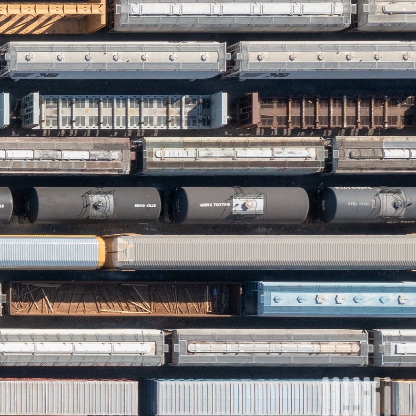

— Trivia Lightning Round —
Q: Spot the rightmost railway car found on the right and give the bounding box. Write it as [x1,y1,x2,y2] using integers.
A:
[369,376,416,416]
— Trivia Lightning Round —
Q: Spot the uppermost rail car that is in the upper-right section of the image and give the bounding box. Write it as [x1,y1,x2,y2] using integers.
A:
[227,90,416,129]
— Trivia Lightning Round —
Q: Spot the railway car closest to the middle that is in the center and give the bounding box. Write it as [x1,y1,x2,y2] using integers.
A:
[163,186,313,225]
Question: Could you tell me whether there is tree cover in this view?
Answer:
No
